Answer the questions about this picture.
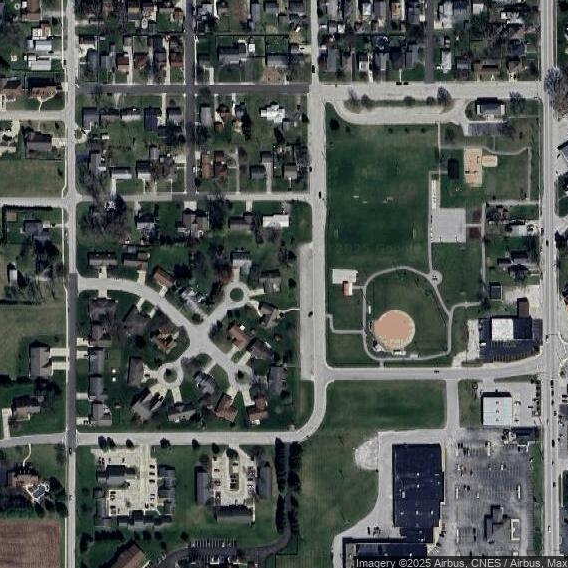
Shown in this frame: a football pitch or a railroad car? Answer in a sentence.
The one in the frame is a football pitch.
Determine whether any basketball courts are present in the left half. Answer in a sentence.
No, looking in the left half, there is no basketball court.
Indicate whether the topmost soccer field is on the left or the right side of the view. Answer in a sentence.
The topmost soccer field sits on the right side.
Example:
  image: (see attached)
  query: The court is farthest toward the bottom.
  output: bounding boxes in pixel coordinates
[430,209,466,243]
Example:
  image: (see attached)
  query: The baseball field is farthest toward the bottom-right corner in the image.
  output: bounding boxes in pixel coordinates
[365,268,448,358]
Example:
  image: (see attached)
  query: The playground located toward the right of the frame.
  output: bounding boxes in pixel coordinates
[465,146,497,184]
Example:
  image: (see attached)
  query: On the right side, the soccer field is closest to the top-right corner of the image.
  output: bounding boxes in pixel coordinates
[339,200,416,266]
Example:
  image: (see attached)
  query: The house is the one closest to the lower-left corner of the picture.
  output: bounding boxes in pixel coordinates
[8,470,39,493]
